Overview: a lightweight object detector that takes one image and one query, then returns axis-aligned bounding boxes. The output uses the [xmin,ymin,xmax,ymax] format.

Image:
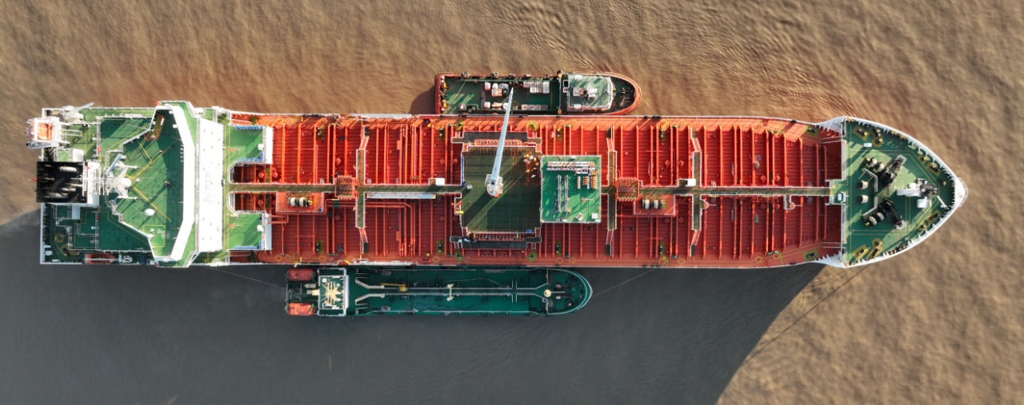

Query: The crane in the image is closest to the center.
[480,89,513,206]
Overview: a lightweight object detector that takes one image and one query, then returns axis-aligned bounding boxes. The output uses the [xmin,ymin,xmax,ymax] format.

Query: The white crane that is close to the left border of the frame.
[51,101,95,126]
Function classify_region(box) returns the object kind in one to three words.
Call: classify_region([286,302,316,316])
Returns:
boat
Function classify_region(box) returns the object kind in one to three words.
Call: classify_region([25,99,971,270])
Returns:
ship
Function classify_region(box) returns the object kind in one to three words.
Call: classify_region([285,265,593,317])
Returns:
ship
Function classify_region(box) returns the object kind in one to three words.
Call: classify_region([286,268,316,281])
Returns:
boat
